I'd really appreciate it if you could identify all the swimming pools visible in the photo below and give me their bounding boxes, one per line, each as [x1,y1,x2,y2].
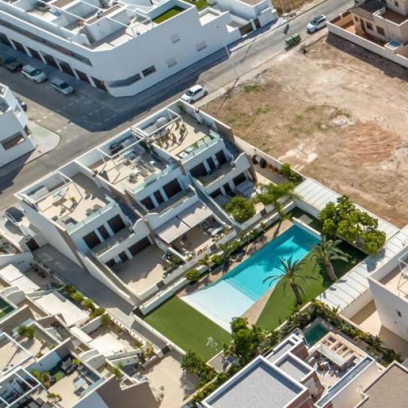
[183,221,320,329]
[302,316,334,345]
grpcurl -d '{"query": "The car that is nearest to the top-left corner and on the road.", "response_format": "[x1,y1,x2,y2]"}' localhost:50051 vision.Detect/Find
[0,51,21,73]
